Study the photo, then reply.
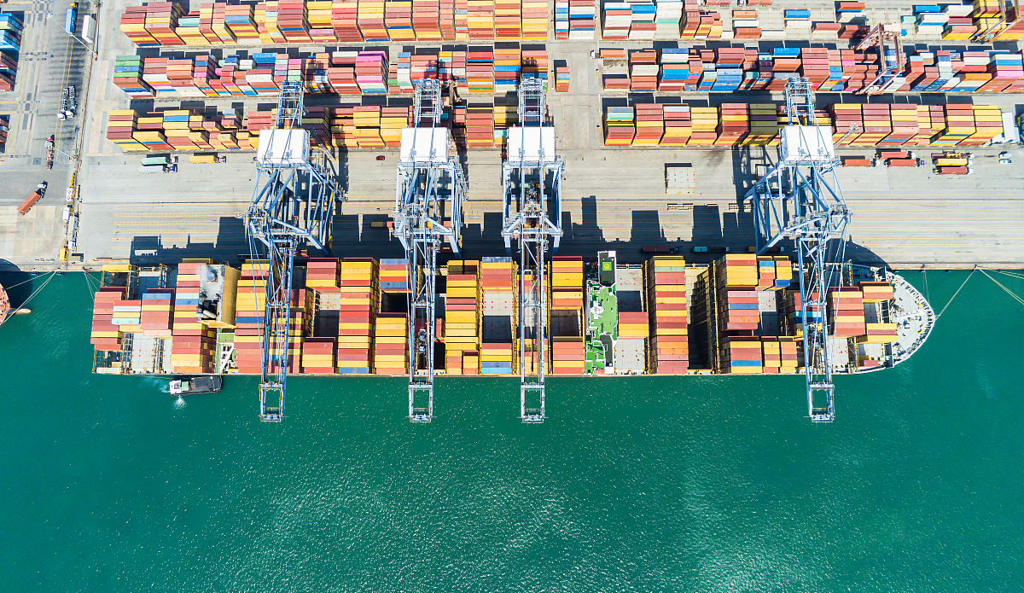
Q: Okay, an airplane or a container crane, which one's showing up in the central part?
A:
container crane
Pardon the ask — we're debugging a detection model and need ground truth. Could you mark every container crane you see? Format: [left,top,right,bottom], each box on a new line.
[851,18,905,95]
[440,77,466,151]
[242,76,353,428]
[388,75,474,429]
[730,72,854,430]
[497,74,568,429]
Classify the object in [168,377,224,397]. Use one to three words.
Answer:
boat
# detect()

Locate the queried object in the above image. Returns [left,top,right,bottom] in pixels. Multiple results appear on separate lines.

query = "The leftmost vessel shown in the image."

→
[0,283,27,331]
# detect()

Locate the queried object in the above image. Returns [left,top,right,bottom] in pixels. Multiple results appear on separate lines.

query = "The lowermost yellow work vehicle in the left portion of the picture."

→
[57,247,71,260]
